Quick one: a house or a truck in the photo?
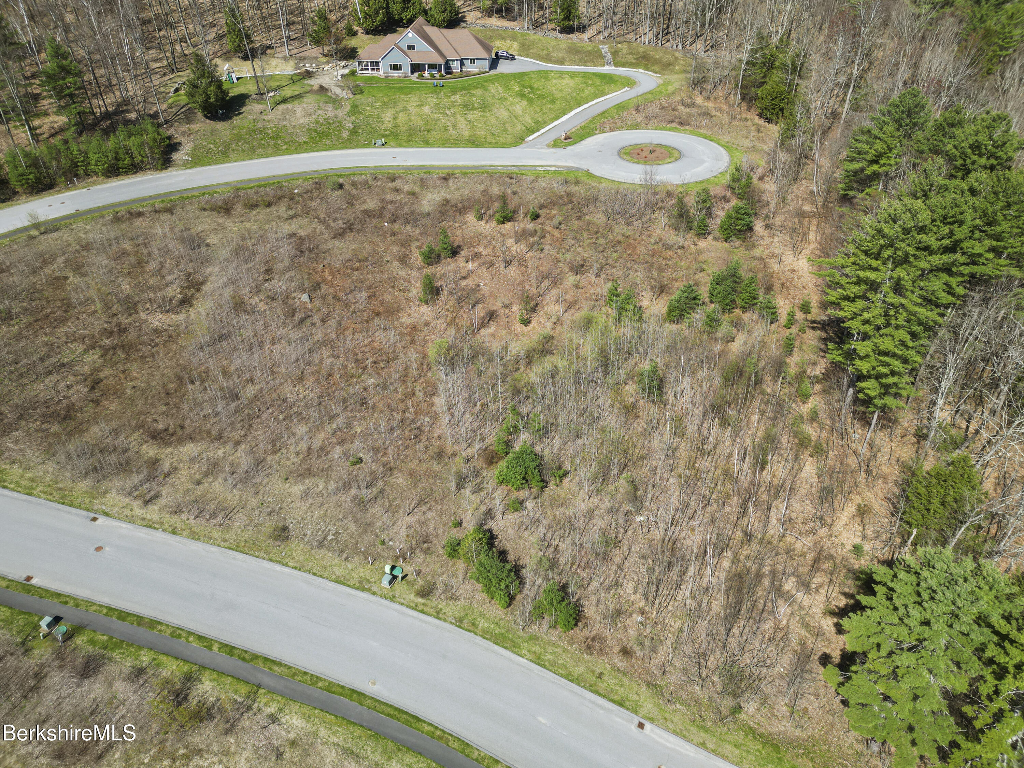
house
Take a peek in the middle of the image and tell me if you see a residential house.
No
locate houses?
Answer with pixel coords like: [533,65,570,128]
[352,18,494,78]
